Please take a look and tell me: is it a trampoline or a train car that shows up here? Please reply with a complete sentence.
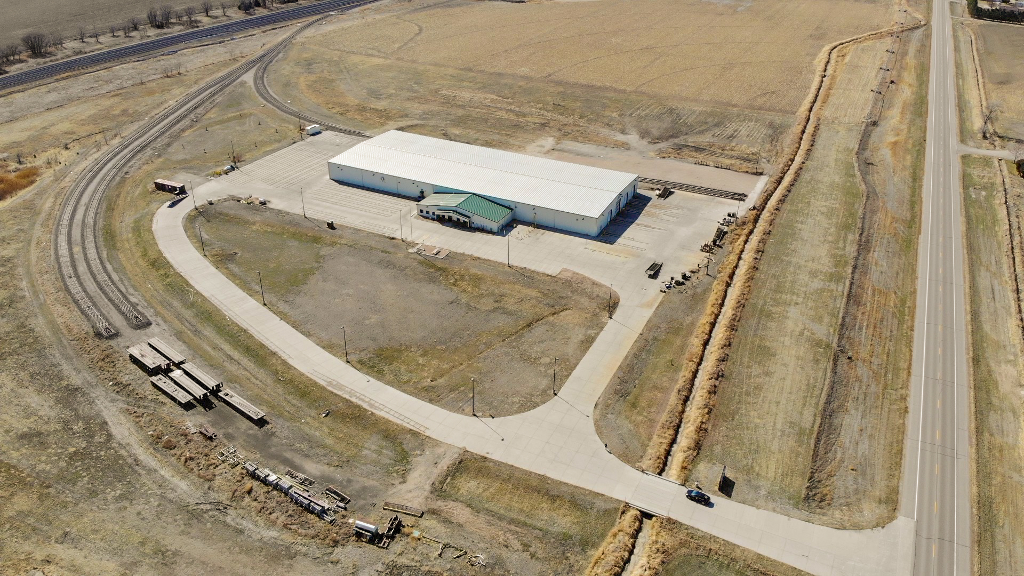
This aerial view contains a train car.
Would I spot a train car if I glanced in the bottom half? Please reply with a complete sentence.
Yes, there is a train car in the bottom half.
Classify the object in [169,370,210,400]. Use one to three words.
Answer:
rail car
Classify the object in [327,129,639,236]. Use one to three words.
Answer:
building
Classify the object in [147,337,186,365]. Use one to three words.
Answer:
rail car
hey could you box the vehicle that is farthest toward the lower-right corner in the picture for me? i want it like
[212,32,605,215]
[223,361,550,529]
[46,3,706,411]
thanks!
[686,488,712,503]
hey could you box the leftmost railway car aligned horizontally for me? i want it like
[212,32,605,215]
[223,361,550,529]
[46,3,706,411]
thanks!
[151,175,185,194]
